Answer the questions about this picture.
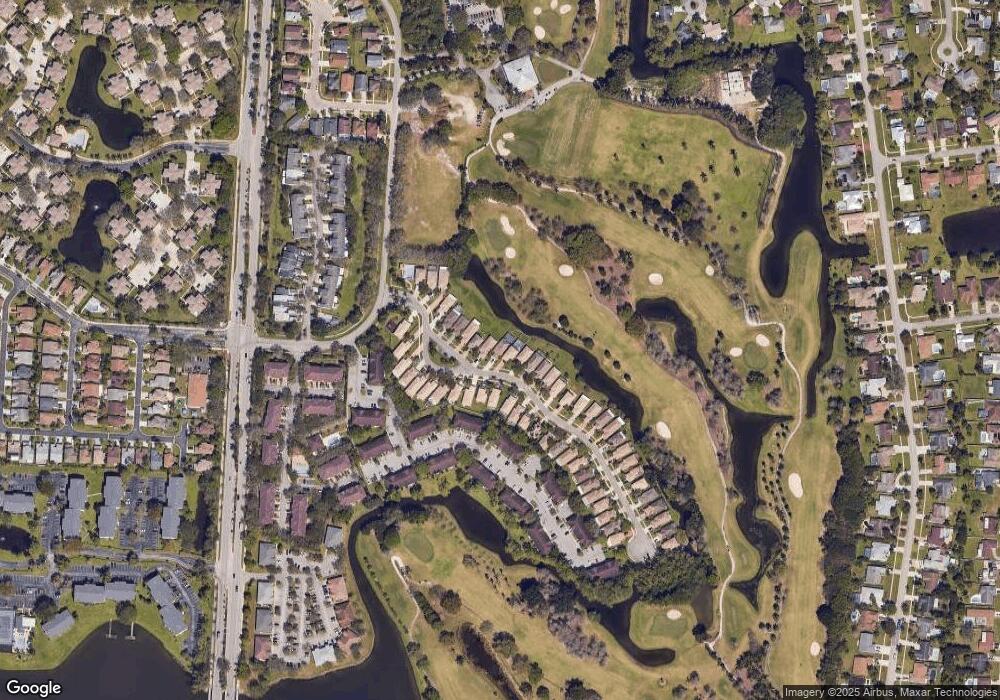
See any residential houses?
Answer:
Yes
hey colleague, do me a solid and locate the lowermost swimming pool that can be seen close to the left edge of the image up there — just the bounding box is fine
[15,616,35,652]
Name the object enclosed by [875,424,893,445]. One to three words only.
house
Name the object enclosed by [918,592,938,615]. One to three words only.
house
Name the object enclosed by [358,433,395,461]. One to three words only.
building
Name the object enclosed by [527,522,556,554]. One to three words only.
building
